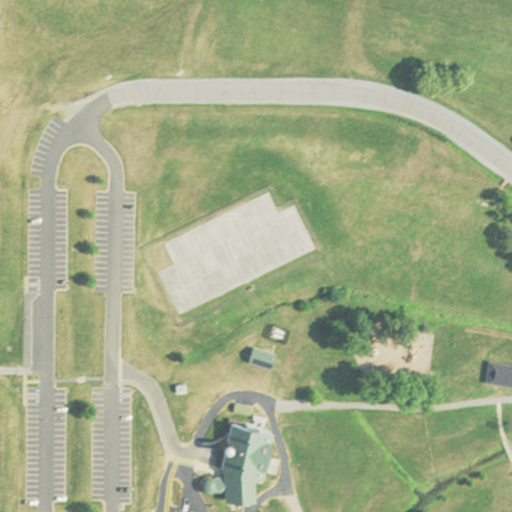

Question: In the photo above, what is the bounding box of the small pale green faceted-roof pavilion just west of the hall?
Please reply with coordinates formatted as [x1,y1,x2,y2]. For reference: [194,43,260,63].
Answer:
[202,478,225,498]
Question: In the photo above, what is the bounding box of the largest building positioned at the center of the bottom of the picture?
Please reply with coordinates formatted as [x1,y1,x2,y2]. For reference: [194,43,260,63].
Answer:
[222,424,274,508]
